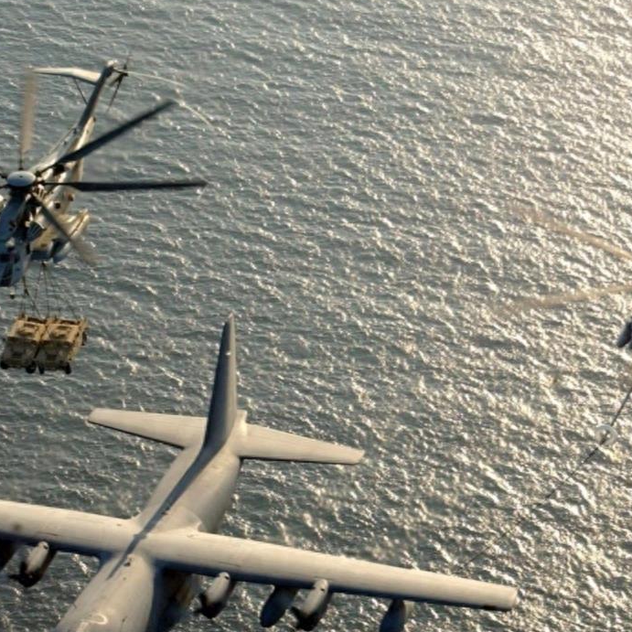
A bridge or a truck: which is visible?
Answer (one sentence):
The one in the frame is a truck.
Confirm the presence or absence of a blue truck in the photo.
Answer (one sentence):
No, I can't see a single blue truck in this photo.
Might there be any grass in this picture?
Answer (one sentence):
No, grass can't be seen anywhere here.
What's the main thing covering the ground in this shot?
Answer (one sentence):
The largest share of the image is taken up by water.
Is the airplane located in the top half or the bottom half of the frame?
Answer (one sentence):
You can find the airplane in the bottom half.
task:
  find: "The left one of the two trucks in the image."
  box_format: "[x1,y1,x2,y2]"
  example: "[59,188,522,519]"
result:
[2,309,53,369]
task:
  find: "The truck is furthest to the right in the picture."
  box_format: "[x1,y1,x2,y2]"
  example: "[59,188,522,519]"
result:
[35,314,88,371]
